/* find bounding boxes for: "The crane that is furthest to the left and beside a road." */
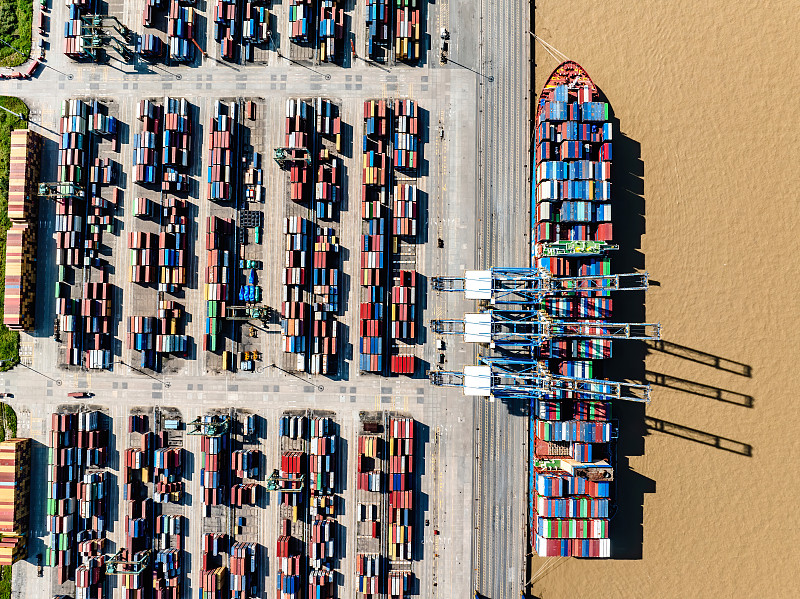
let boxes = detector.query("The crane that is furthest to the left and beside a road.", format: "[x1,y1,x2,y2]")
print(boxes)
[37,183,89,205]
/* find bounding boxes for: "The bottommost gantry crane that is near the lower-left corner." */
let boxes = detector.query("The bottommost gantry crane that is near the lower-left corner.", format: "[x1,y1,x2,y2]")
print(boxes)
[102,545,152,575]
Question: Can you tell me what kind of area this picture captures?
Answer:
port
